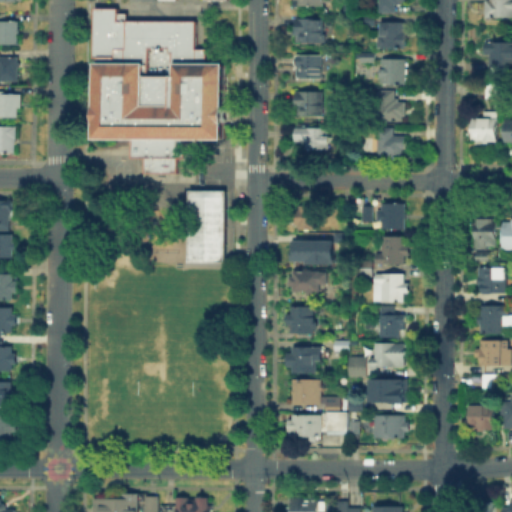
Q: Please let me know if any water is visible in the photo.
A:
No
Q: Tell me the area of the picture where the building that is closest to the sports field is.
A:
center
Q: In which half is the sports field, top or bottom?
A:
bottom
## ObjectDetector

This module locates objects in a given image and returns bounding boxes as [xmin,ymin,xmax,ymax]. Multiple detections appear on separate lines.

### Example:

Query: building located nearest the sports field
[186,190,224,264]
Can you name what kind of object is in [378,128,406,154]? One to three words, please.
house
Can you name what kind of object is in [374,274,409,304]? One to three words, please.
house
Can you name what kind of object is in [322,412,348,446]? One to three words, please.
building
